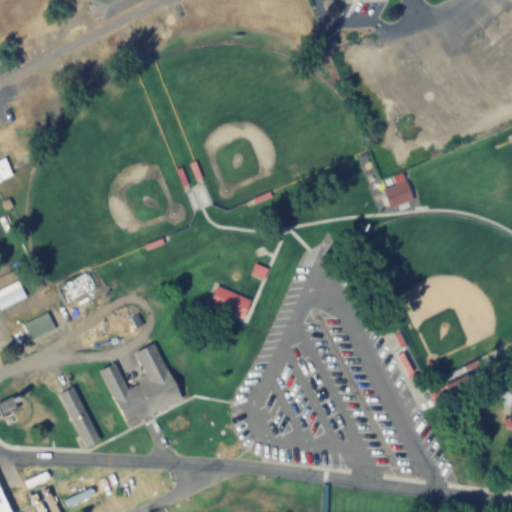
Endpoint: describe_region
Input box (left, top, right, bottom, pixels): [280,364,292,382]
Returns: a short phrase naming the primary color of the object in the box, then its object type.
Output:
white vehicle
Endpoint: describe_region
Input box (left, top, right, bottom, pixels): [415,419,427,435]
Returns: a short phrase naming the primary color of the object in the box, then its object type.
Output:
white vehicle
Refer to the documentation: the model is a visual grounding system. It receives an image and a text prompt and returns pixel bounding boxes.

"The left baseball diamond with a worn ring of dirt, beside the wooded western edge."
[30,70,196,281]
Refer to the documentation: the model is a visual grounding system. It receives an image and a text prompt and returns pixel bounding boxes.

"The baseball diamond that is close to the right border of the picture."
[386,216,512,378]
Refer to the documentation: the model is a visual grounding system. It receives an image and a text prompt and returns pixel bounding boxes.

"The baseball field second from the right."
[156,45,362,210]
